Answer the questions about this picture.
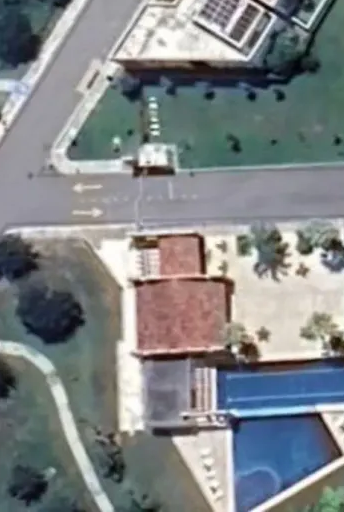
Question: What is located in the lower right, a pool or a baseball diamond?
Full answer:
Looking in the lower right, you will find a pool.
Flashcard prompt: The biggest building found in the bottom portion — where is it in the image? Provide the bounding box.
[132,273,230,354]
